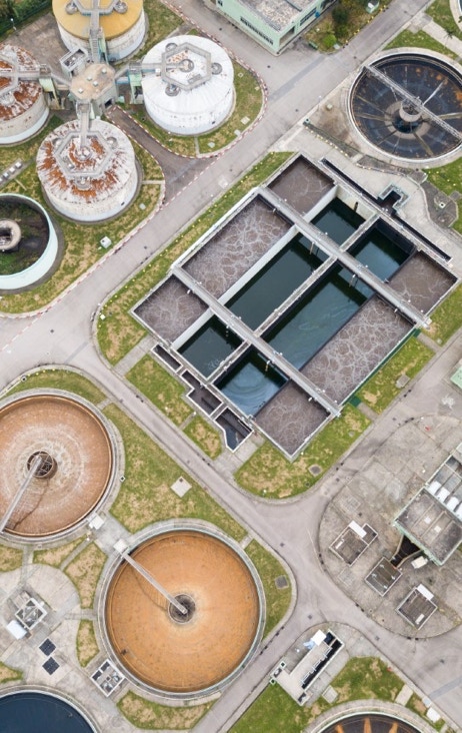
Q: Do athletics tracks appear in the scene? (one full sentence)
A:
No, the photo shows no athletics track.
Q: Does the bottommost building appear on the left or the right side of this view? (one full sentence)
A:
It is on the right.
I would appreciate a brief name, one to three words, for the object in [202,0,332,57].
building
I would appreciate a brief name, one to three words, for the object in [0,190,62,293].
storage tank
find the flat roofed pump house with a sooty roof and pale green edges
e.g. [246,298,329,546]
[390,486,462,563]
